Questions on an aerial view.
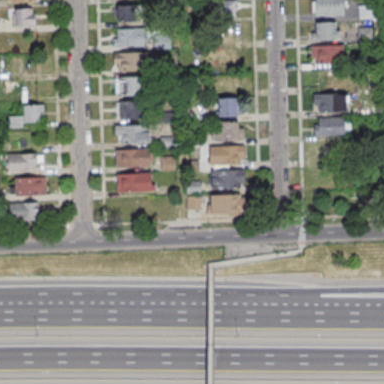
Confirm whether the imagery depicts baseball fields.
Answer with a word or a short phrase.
No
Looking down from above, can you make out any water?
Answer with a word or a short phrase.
No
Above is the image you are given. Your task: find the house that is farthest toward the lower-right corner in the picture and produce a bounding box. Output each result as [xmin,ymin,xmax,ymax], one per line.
[210,193,244,218]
